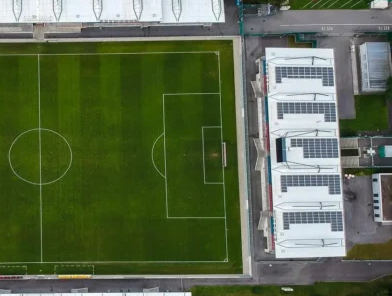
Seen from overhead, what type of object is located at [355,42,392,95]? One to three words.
building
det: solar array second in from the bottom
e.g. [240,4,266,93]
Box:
[281,175,340,194]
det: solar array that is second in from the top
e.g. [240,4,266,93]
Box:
[278,103,336,122]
